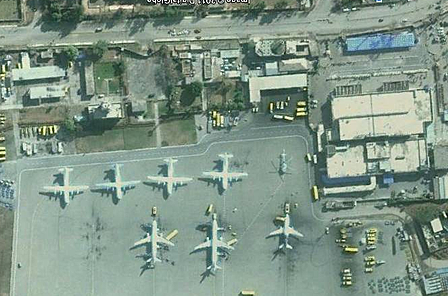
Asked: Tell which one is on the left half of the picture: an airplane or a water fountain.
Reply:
airplane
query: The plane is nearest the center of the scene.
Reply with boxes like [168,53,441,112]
[203,153,249,189]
